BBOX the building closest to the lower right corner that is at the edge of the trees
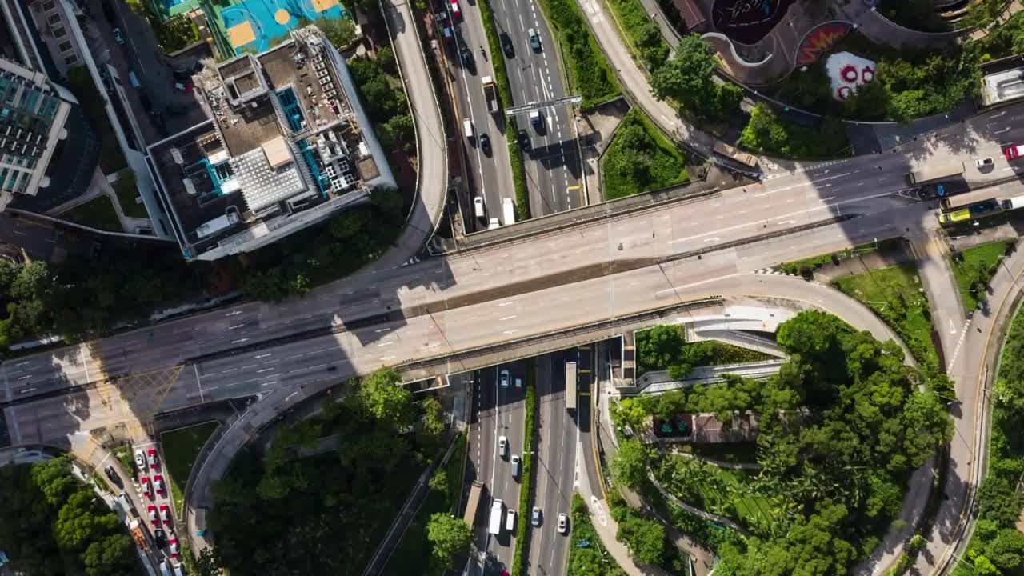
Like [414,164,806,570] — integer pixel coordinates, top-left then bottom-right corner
[693,413,757,443]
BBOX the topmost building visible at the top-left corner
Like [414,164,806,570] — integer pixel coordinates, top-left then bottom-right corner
[29,0,95,86]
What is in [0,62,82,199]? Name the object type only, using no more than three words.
building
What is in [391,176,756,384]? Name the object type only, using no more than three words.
overpass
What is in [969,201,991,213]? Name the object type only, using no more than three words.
vehicle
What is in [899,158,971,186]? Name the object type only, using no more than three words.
truck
